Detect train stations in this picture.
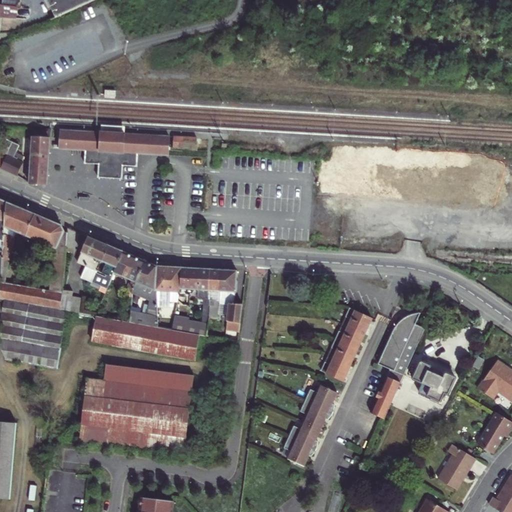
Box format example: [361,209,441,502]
[58,128,169,179]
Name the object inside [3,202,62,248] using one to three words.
house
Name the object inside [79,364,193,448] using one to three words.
building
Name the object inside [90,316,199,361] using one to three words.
shed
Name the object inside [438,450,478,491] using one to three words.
house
